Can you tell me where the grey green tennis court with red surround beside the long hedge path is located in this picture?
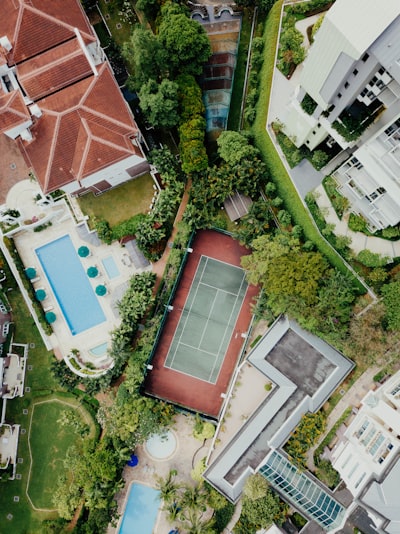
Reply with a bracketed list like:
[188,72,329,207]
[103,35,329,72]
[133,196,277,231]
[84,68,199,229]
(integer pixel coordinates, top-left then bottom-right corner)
[146,229,260,419]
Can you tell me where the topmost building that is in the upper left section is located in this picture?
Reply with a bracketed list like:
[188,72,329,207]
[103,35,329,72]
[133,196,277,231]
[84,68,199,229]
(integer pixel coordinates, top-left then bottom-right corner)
[0,0,150,201]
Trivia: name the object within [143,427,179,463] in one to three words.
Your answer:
swimming pool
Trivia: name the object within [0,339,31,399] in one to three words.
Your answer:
house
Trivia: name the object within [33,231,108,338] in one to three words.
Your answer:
swimming pool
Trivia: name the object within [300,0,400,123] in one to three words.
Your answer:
building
